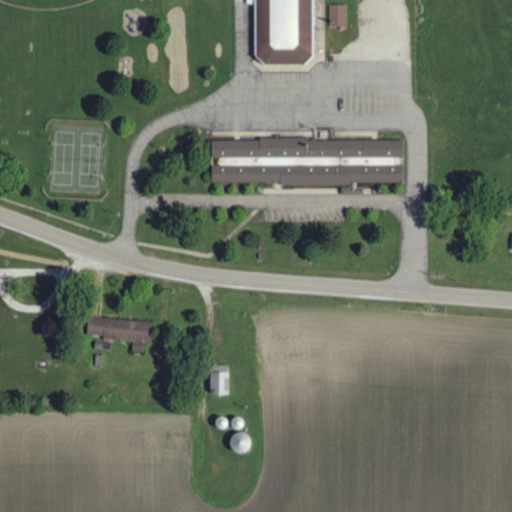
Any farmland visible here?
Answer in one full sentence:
Yes, farmland shows up in the scene.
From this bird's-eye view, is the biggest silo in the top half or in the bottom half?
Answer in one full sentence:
The bottom half of the photo is where the biggest silo is.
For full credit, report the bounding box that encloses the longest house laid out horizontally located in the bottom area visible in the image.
[89,318,153,353]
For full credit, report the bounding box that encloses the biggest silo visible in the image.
[230,431,252,454]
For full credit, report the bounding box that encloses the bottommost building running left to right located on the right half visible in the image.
[212,138,404,186]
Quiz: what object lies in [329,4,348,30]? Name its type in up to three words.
shed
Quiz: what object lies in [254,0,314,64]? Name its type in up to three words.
building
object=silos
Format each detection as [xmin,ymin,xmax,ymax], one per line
[215,416,230,431]
[230,431,252,454]
[230,416,245,431]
